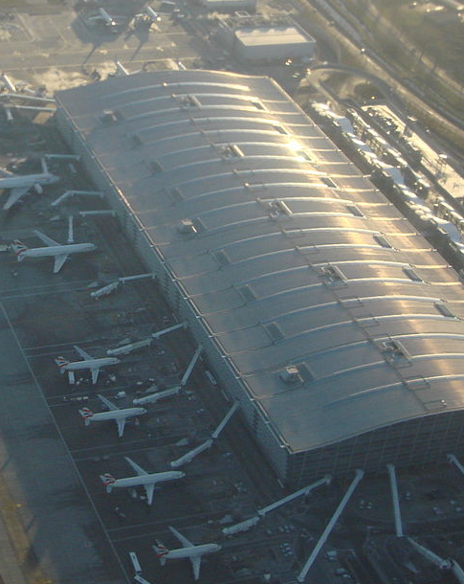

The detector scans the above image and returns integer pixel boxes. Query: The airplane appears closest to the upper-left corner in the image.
[0,75,32,95]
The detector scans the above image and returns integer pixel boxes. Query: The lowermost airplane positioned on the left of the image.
[151,529,220,580]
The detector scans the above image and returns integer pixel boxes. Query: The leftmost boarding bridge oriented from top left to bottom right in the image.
[387,463,452,573]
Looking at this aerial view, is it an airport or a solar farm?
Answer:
airport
